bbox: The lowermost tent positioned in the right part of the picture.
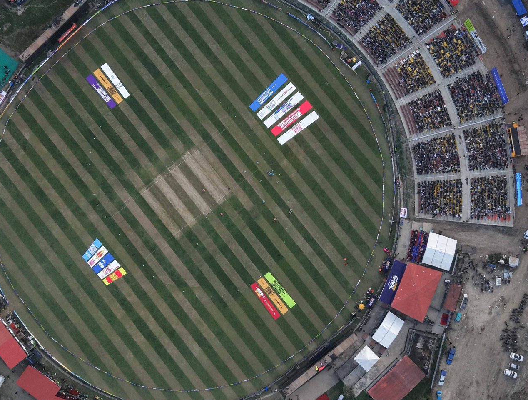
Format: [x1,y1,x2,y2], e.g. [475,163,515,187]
[353,345,379,372]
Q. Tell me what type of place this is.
sports ground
